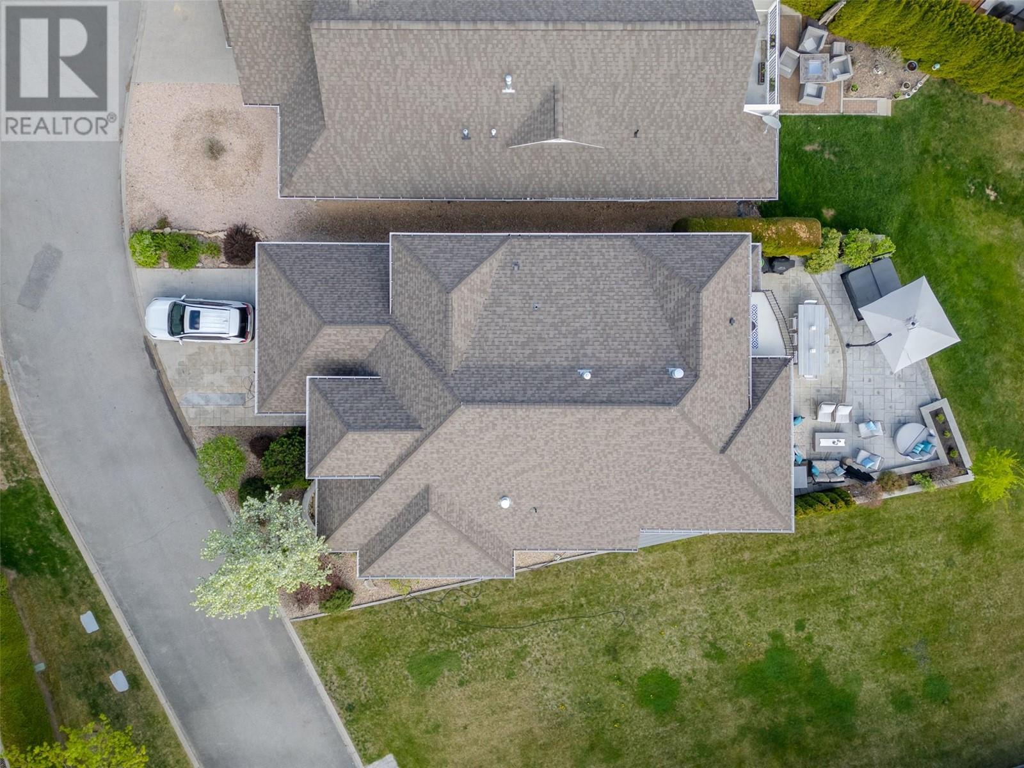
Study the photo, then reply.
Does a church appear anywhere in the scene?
No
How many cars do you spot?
1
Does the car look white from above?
Yes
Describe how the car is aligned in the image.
from left to right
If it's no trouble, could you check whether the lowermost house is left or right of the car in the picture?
right of it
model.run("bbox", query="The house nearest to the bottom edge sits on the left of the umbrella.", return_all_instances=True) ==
[256,234,798,578]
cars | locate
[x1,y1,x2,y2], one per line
[144,285,256,342]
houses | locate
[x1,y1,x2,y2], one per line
[256,234,798,578]
[218,0,789,199]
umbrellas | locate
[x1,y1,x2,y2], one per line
[846,277,960,373]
